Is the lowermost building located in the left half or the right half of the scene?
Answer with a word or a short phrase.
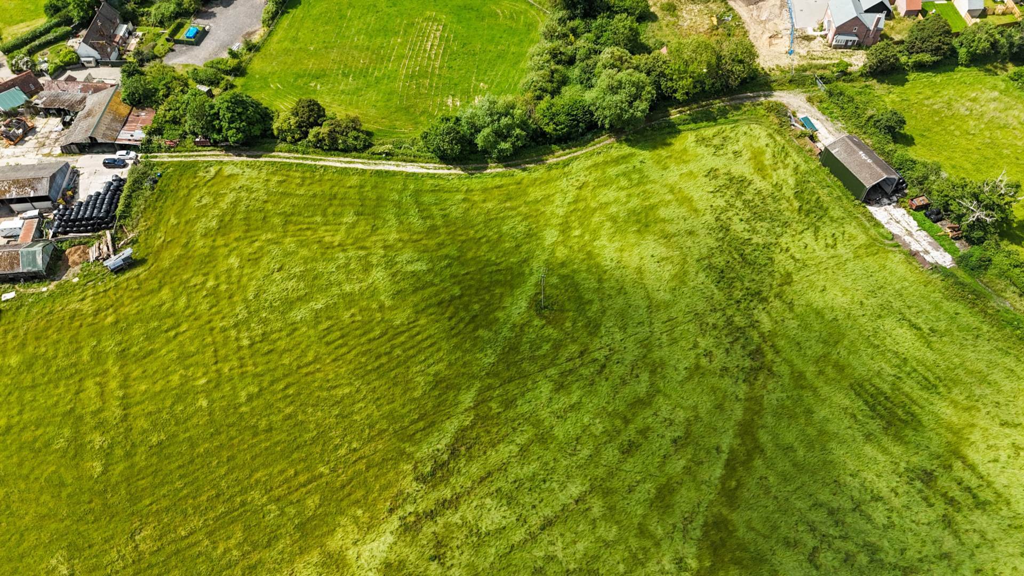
left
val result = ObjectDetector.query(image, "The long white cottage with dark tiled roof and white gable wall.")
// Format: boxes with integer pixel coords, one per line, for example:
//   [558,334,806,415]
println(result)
[76,0,134,68]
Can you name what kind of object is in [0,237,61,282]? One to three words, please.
building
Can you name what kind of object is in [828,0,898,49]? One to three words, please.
house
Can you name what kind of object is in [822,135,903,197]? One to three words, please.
barn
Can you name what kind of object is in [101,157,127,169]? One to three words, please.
vehicle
